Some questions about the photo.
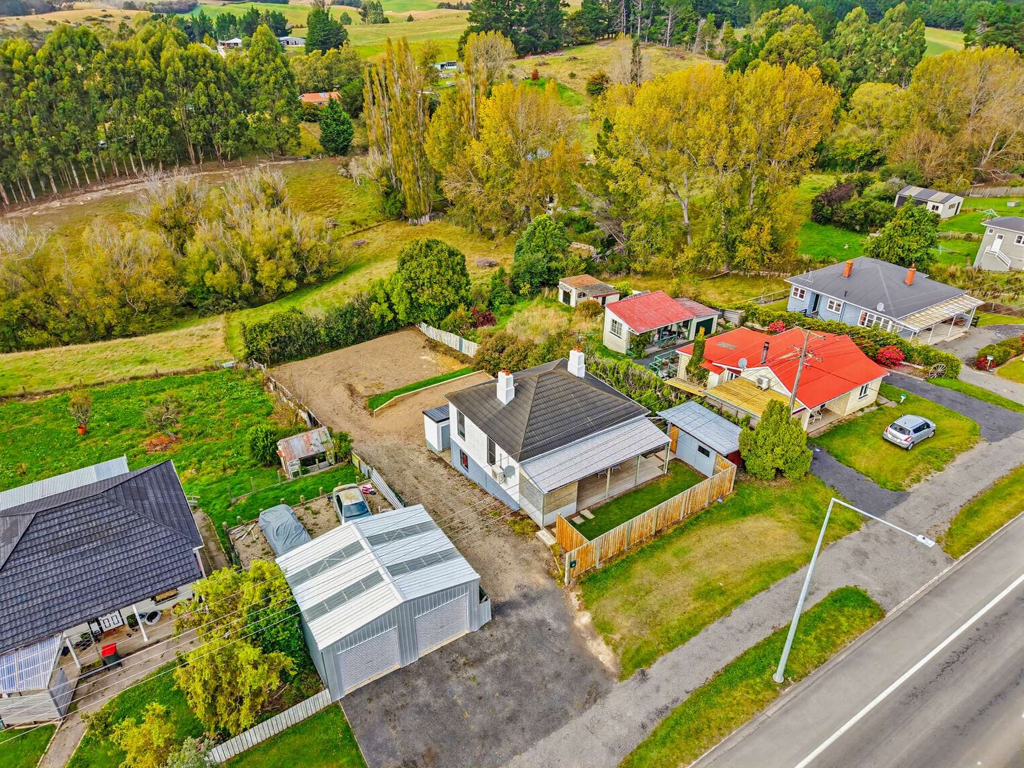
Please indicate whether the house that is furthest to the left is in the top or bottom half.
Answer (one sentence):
It is in the bottom half that the house that is furthest to the left appears.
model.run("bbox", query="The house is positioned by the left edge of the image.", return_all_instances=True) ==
[0,454,211,745]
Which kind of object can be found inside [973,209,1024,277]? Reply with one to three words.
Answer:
house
